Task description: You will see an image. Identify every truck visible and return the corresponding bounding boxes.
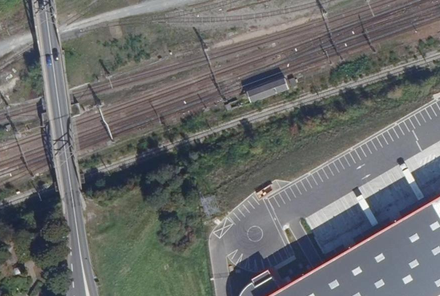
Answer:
[400,164,425,200]
[356,194,382,230]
